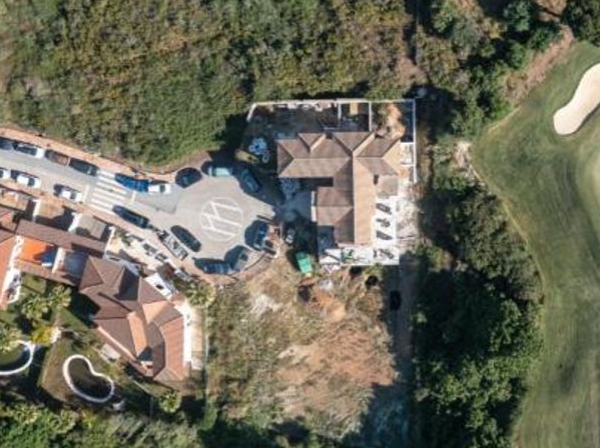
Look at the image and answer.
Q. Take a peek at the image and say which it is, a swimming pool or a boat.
swimming pool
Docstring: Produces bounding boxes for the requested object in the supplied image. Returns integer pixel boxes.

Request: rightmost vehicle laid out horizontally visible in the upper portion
[209,165,234,177]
